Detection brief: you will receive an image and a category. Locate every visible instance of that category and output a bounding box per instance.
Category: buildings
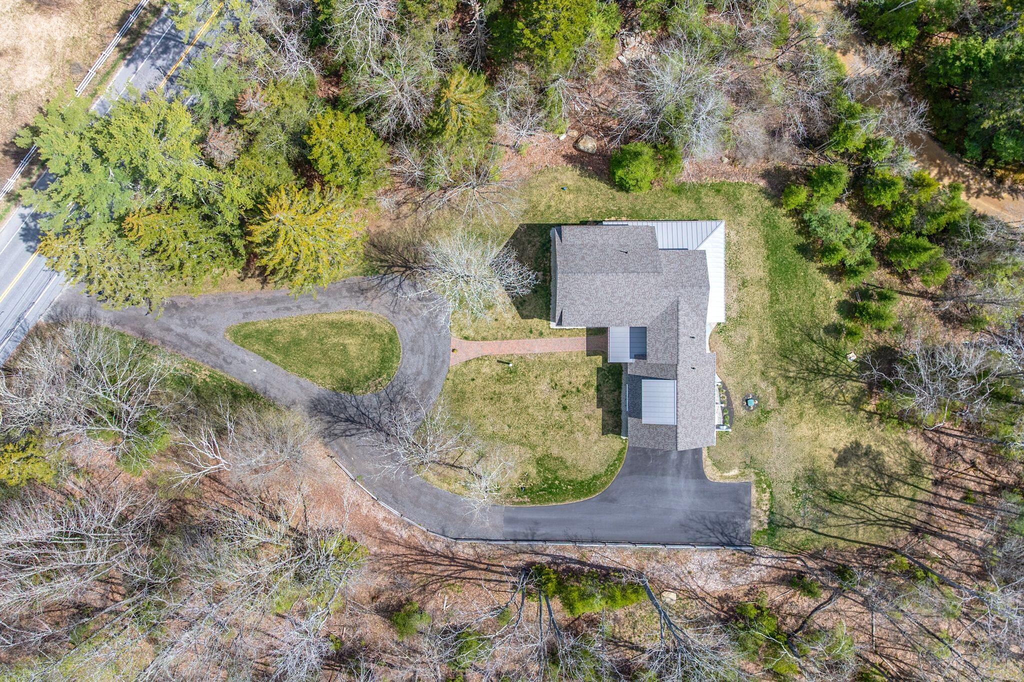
[554,220,726,451]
